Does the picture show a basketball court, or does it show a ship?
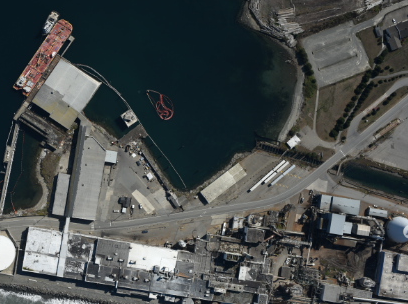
ship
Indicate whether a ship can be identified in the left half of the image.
Yes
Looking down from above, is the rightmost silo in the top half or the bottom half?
bottom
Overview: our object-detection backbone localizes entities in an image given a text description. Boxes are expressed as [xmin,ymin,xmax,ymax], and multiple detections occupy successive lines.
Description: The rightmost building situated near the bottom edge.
[374,250,408,300]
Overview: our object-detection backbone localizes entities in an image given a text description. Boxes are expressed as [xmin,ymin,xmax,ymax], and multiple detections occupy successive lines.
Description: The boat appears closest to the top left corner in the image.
[41,11,57,35]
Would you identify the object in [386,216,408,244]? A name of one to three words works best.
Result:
silo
